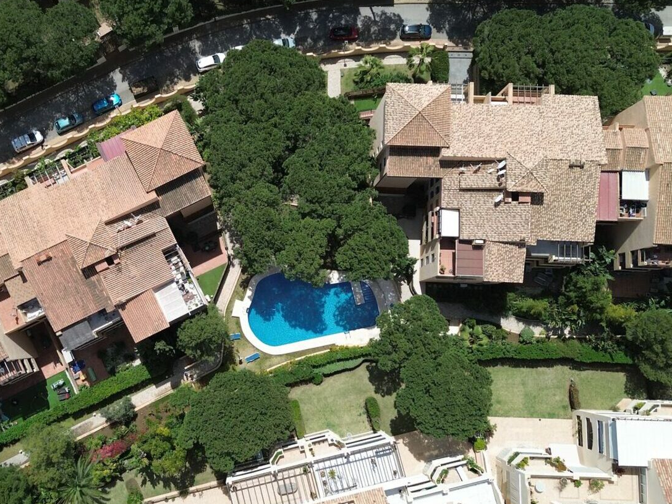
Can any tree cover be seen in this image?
Yes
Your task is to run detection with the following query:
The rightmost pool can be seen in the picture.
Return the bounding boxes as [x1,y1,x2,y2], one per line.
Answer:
[247,273,379,346]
